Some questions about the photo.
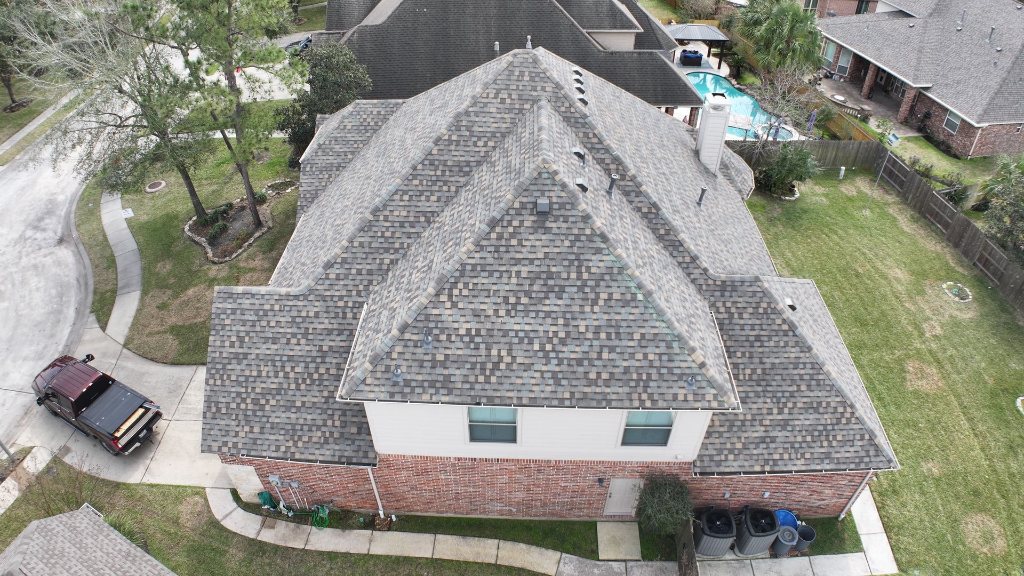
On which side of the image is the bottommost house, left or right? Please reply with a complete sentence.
The bottommost house appears in the left half of the scene.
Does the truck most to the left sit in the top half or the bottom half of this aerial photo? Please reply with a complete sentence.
Seen from above, the truck most to the left lies in the bottom half of the view.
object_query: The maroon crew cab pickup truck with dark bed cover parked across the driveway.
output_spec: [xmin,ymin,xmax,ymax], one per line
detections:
[36,357,170,460]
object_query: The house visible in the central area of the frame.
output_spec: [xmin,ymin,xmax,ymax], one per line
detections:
[198,43,910,537]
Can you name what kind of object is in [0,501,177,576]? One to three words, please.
house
